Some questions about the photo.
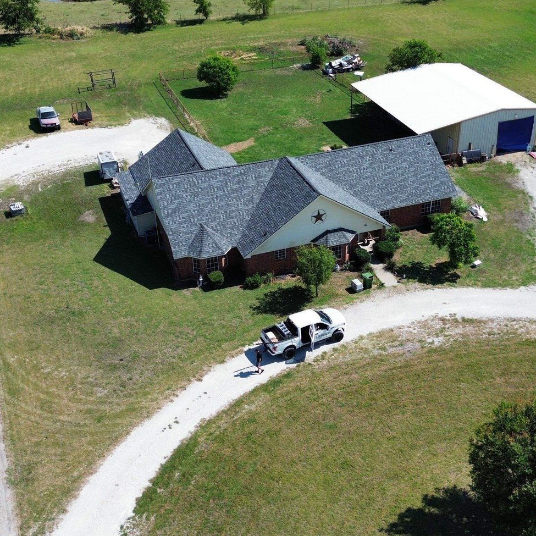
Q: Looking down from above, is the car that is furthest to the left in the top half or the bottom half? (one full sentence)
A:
The car that is furthest to the left is in the top half of the image.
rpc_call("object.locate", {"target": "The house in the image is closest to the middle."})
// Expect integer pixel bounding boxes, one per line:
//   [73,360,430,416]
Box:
[115,128,458,286]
